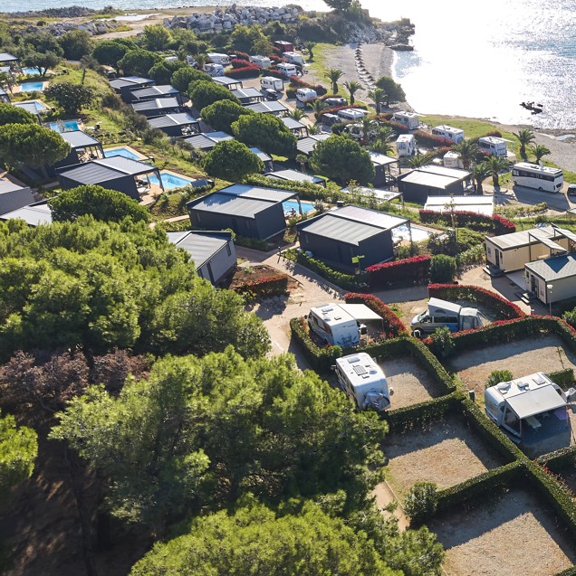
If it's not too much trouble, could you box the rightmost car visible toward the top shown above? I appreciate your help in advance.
[557,180,576,196]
